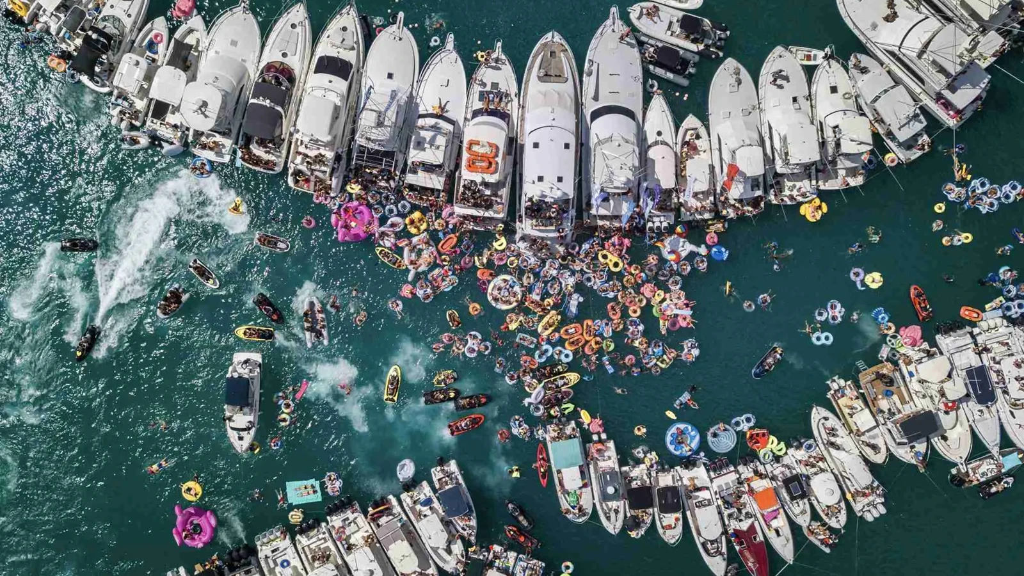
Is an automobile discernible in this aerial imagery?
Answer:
No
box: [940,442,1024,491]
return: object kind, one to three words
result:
boat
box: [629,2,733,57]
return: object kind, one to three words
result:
boat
